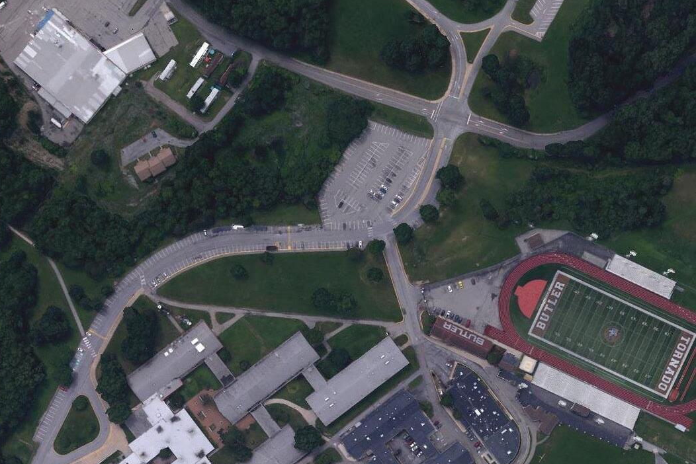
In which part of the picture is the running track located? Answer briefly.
bottom right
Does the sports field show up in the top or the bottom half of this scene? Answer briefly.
bottom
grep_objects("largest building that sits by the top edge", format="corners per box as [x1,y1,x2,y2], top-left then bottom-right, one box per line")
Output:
[15,9,127,126]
